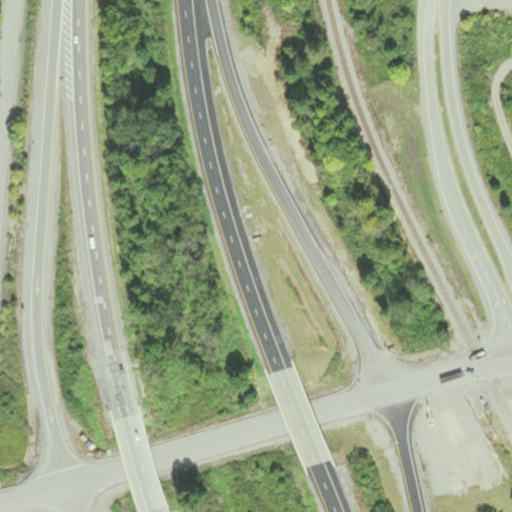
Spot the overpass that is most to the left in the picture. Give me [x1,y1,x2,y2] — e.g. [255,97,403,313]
[110,406,168,512]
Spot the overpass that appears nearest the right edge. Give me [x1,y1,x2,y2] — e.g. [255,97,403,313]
[264,360,336,474]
